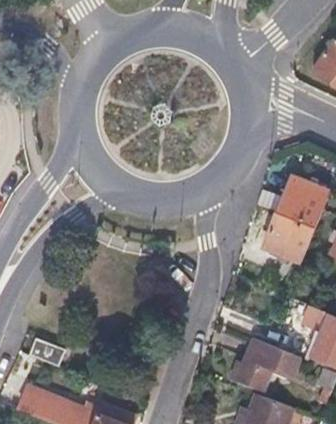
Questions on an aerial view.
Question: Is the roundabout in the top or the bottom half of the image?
top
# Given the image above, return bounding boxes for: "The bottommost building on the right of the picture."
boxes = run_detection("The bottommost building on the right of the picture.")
[238,391,298,424]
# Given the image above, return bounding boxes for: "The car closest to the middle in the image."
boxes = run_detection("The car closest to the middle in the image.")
[176,253,196,272]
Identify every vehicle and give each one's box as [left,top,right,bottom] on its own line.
[0,356,10,376]
[3,172,19,193]
[176,253,196,272]
[267,327,288,342]
[0,197,5,208]
[193,332,204,354]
